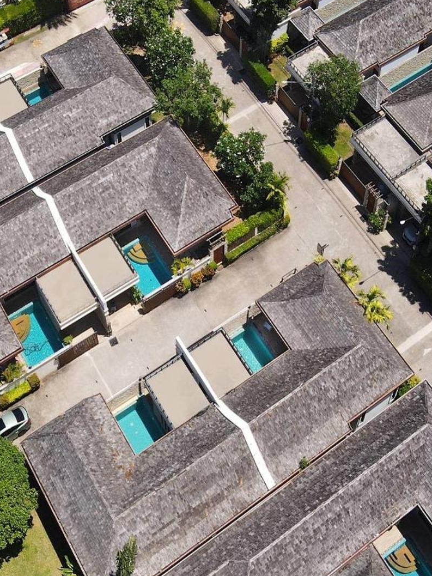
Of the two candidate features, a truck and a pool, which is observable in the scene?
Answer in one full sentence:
The one in the frame is a pool.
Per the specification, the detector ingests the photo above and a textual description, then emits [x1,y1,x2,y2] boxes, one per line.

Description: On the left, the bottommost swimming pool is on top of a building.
[114,393,171,451]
